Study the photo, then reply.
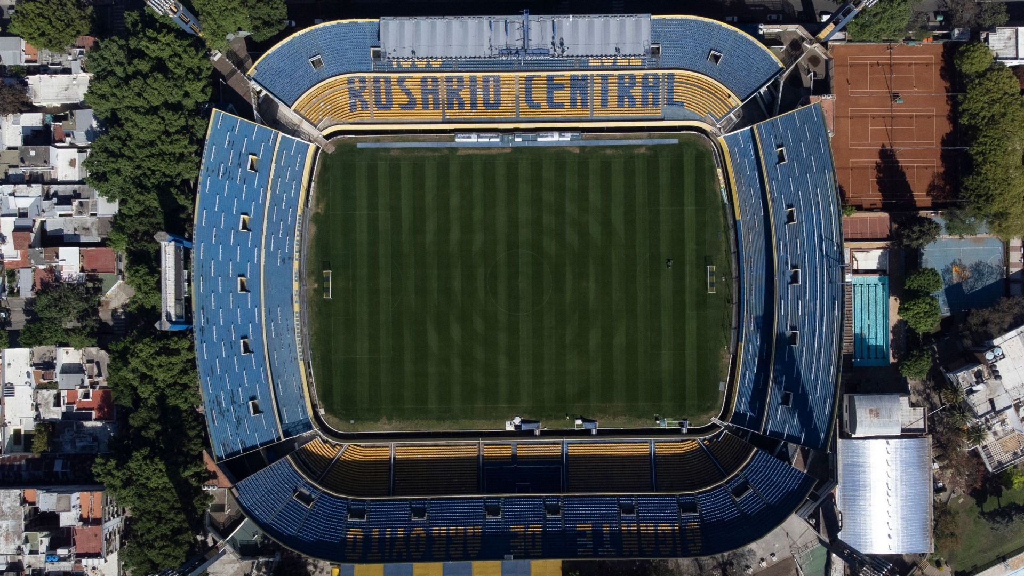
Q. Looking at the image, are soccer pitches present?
Yes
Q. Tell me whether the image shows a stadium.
Yes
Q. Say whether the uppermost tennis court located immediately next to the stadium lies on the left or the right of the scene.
right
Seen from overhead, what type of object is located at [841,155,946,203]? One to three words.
tennis court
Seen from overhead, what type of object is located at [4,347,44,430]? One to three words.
house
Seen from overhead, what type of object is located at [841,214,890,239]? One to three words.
sports court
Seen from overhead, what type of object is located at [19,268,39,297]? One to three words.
shed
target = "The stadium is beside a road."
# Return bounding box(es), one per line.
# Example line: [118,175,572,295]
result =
[192,9,845,563]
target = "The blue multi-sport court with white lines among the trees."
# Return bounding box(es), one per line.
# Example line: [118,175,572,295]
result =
[920,237,1008,316]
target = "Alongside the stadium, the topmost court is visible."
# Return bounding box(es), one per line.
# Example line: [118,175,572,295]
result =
[839,52,944,99]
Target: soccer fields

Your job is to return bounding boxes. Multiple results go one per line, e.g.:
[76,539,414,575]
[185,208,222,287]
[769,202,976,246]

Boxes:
[307,132,738,432]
